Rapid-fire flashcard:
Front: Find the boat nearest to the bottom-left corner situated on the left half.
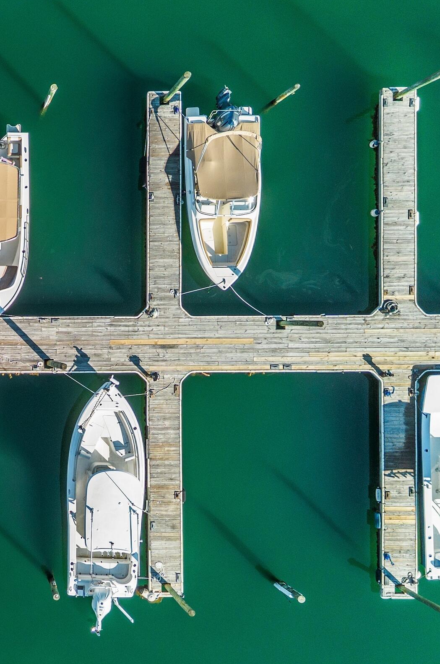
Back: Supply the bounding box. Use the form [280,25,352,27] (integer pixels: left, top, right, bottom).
[65,375,151,640]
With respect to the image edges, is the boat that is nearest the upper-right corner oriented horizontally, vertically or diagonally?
vertically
